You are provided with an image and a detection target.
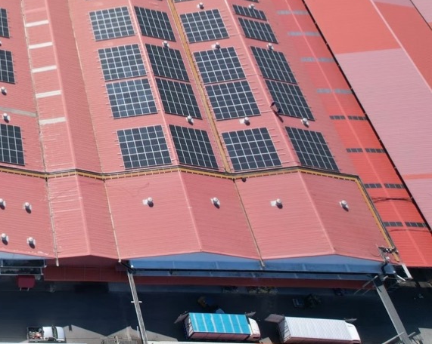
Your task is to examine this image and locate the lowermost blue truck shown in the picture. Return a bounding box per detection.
[177,313,264,344]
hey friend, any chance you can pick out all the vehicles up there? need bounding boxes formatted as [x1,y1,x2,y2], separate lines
[270,318,364,344]
[177,313,264,344]
[25,326,68,344]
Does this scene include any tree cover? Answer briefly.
No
